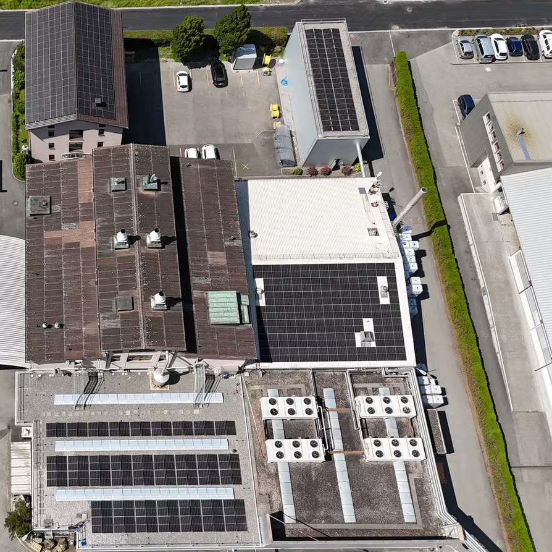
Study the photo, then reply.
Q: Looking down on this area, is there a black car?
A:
Yes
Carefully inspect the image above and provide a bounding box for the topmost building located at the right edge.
[459,92,552,200]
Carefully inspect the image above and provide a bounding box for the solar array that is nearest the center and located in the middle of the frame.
[252,262,407,361]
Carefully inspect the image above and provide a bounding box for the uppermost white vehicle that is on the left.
[176,70,190,94]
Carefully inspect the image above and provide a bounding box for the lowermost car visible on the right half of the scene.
[454,94,475,120]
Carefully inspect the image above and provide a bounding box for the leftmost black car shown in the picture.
[210,61,227,89]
